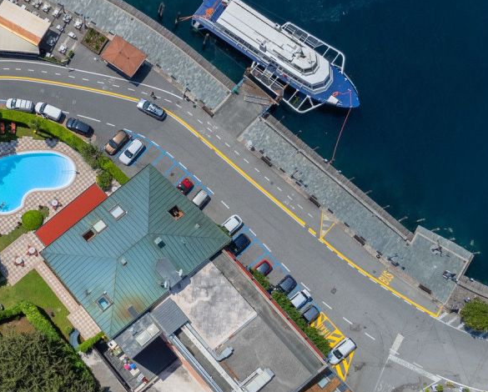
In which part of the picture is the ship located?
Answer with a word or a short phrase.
top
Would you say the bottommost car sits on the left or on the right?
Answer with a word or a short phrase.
right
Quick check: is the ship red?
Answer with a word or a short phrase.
No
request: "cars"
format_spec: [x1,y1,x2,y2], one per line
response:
[257,256,274,274]
[191,188,211,207]
[287,286,314,310]
[220,211,244,236]
[300,300,323,323]
[104,129,130,154]
[136,98,166,121]
[226,231,251,256]
[325,337,355,365]
[119,138,145,165]
[34,101,65,122]
[176,174,196,195]
[5,97,36,112]
[270,270,298,294]
[65,117,92,138]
